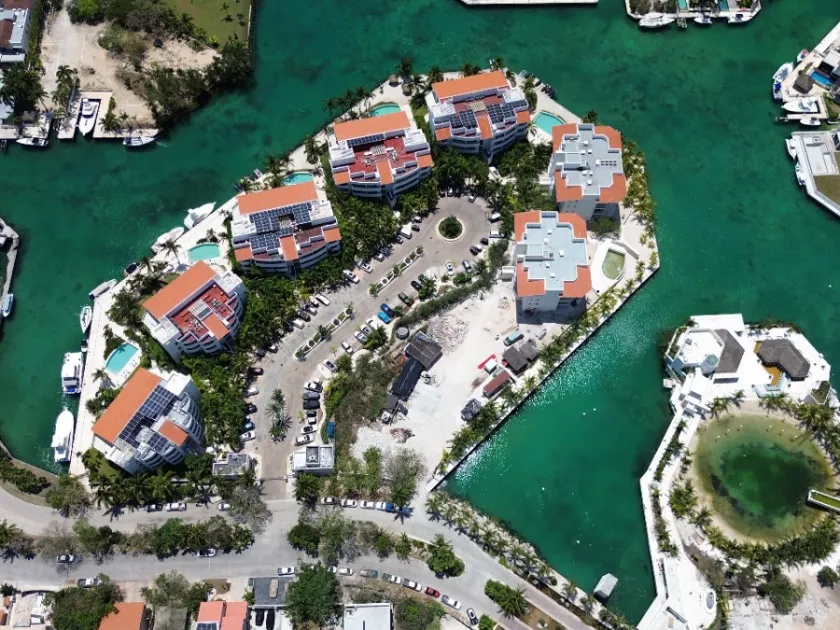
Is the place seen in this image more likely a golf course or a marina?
marina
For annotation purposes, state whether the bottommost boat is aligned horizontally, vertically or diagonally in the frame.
vertically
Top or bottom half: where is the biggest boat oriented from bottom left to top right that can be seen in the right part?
top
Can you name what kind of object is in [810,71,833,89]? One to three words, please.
swimming pool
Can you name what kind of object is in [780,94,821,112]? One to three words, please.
boat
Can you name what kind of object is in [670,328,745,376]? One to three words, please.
house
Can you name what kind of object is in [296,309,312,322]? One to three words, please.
vehicle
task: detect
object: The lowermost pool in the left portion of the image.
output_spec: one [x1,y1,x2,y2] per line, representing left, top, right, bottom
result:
[104,343,139,373]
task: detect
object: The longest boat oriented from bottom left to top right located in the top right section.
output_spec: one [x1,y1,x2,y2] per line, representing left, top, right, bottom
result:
[769,63,793,83]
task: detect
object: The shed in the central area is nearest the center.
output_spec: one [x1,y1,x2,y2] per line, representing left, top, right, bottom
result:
[405,332,442,372]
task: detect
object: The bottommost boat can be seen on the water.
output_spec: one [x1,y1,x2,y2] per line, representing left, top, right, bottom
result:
[49,408,72,463]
